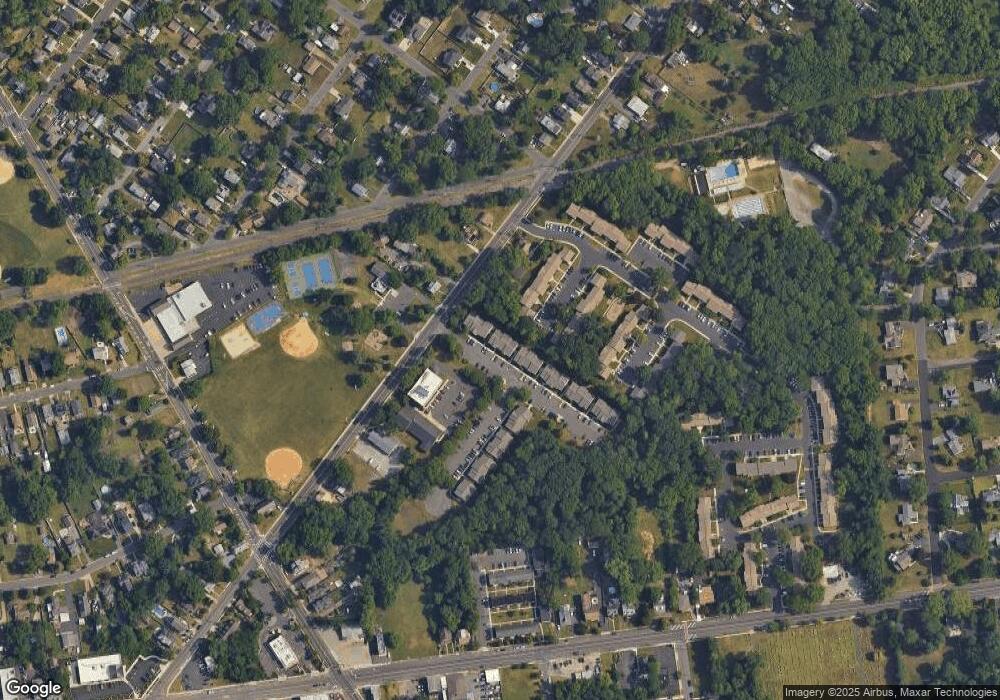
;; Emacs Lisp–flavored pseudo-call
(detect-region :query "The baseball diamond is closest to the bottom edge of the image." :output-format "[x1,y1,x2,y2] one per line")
[266,446,303,495]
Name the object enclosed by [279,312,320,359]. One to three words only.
baseball field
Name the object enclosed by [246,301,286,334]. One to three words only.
sports court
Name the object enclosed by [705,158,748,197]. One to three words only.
swimming pool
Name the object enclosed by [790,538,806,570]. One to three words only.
building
